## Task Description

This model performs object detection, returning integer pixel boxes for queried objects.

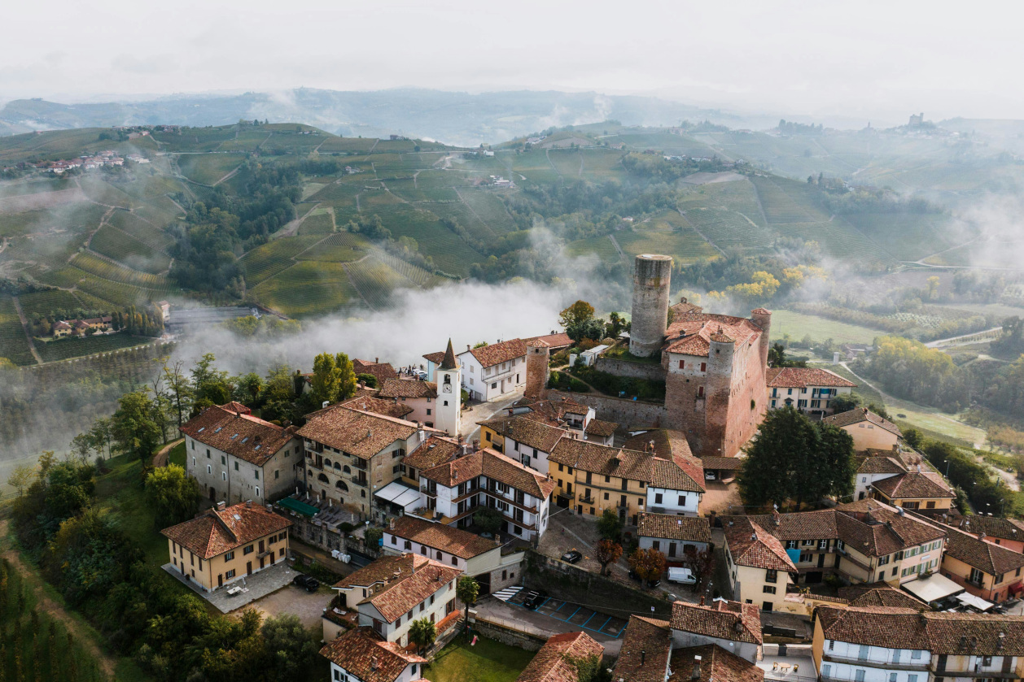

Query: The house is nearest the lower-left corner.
[163,496,294,589]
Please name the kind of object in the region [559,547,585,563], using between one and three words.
car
